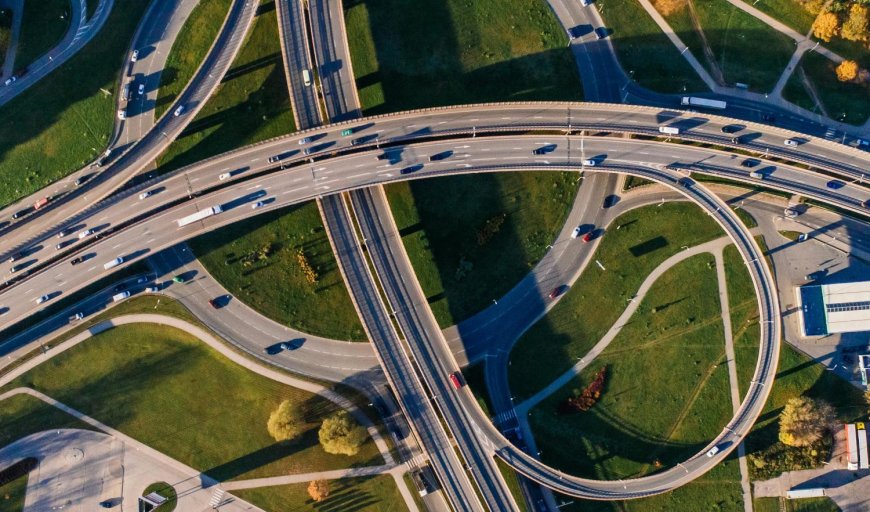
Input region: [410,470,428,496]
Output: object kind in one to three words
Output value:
vehicle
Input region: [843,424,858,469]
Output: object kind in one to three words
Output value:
vehicle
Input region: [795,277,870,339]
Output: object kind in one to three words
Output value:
building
